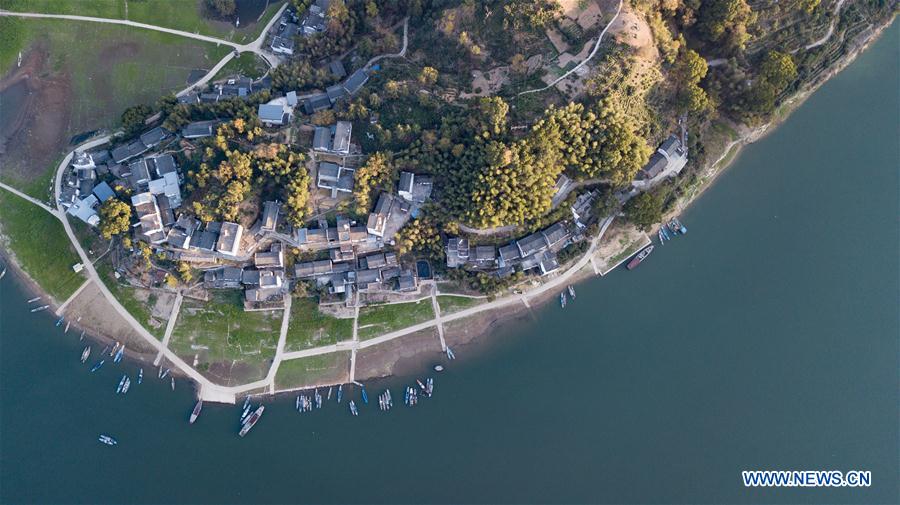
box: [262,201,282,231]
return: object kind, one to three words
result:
house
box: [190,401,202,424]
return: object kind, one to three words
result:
vessel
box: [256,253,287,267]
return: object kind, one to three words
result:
house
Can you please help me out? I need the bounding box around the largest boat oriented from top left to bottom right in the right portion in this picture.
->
[668,218,686,233]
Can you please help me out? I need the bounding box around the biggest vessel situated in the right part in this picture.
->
[627,247,655,269]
